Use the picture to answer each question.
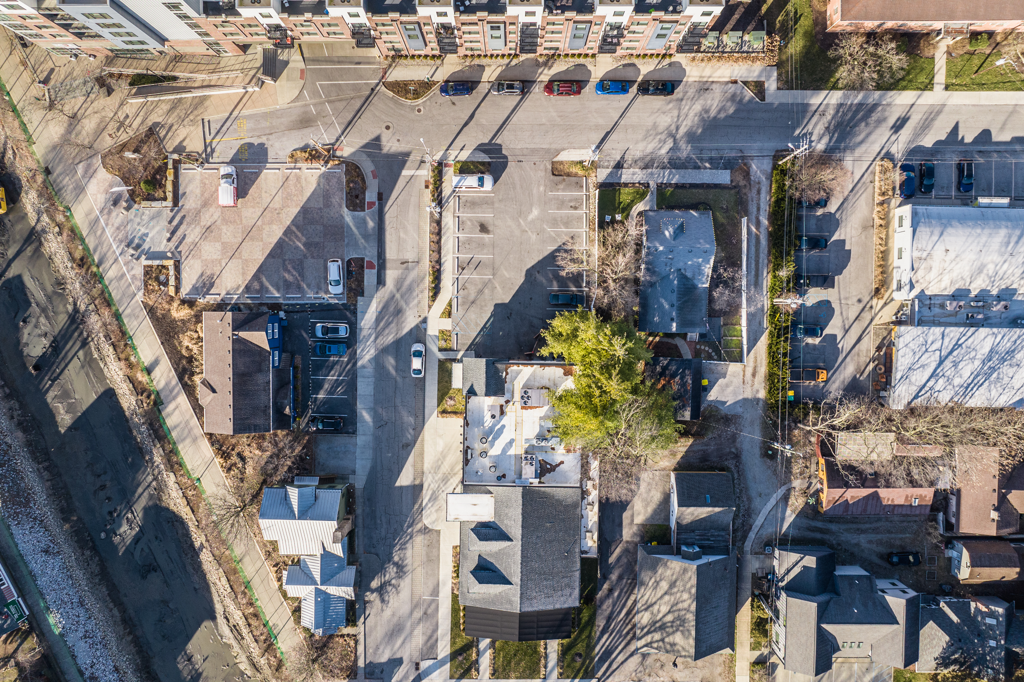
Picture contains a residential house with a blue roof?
Yes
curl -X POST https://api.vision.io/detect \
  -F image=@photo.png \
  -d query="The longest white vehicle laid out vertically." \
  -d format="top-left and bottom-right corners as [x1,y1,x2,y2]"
[214,162,237,215]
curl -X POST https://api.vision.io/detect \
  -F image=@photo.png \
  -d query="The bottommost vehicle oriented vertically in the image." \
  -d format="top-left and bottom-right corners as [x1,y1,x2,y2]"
[410,343,426,377]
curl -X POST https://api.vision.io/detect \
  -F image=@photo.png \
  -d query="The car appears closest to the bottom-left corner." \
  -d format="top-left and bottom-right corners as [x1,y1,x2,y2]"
[310,416,343,432]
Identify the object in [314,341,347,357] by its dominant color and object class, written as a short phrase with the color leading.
blue car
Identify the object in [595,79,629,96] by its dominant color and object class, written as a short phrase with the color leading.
blue car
